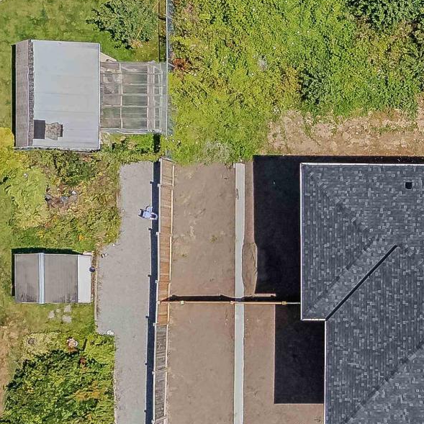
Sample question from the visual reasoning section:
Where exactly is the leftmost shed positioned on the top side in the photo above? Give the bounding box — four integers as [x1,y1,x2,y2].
[15,37,116,155]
